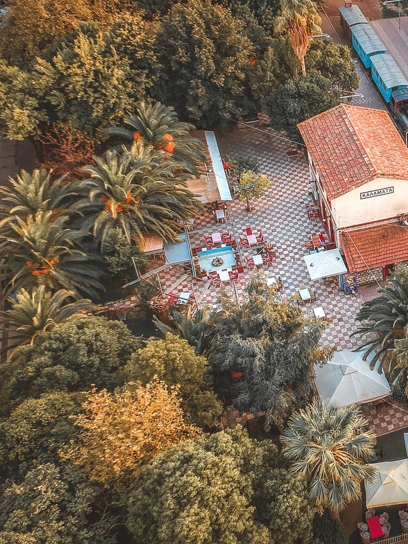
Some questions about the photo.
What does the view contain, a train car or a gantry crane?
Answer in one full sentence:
There is a train car in the scene.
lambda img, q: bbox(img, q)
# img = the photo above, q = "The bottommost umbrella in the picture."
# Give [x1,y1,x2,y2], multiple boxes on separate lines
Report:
[363,457,408,508]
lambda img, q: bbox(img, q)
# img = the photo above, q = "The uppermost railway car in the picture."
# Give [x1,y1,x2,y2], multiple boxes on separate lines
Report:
[352,25,387,75]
